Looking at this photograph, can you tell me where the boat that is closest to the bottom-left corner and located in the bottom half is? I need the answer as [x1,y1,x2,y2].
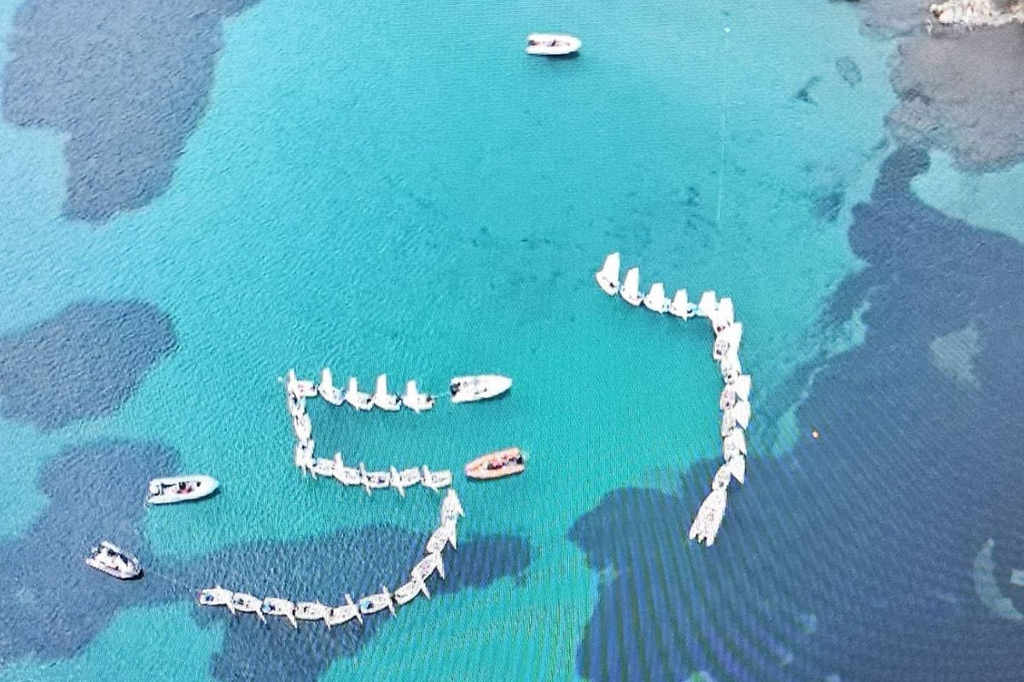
[84,544,141,573]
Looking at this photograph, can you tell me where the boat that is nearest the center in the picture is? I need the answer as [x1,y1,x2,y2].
[446,375,512,400]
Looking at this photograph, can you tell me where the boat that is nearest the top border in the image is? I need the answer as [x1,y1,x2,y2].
[524,35,581,51]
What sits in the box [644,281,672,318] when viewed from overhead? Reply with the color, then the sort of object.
white boat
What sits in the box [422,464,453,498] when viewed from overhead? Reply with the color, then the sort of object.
white boat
